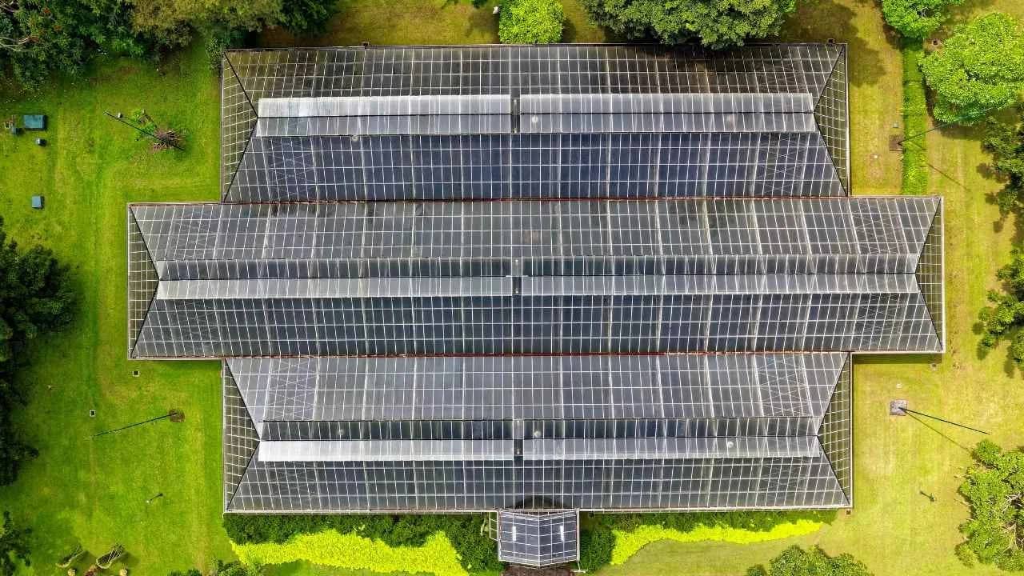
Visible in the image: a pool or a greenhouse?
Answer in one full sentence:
There is a greenhouse in the scene.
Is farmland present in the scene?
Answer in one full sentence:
No, the scene doesn't show any farmland.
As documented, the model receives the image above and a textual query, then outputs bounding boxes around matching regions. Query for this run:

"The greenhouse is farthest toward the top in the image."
[127,42,945,513]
